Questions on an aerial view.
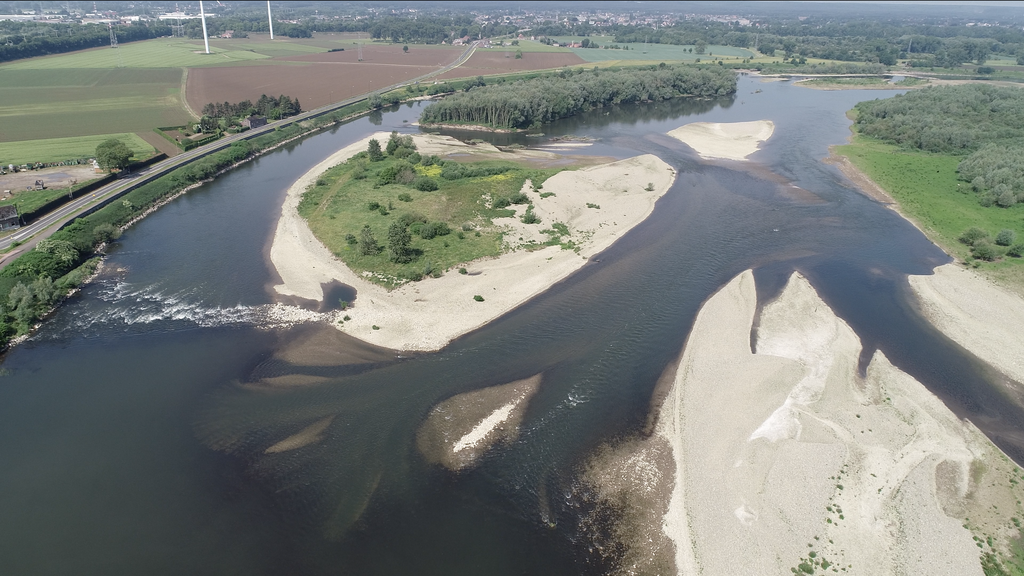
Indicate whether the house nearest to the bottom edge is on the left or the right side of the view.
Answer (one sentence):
The house nearest to the bottom edge is on the left side of the image.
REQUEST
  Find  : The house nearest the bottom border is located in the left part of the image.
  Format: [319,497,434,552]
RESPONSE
[0,196,31,235]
